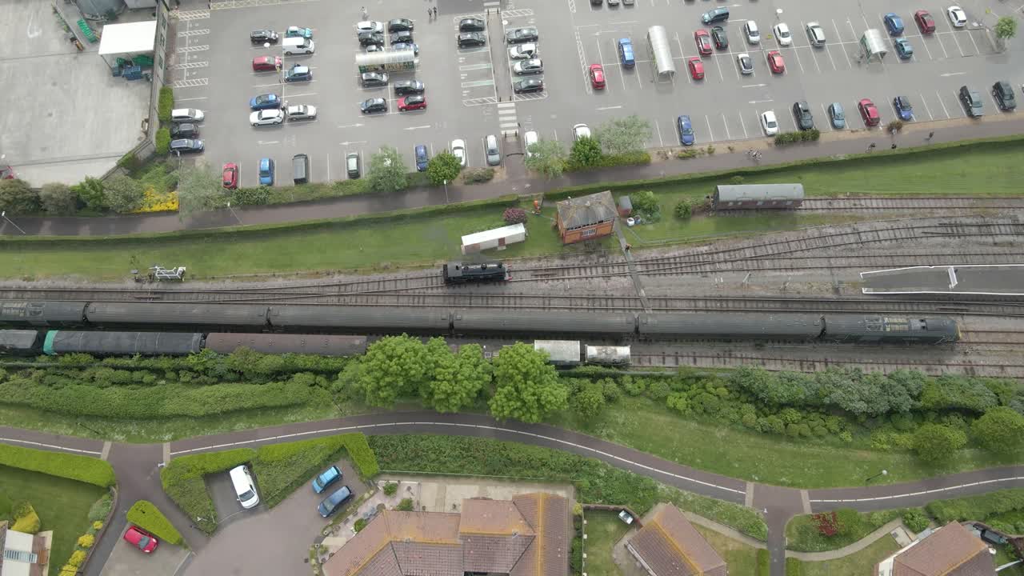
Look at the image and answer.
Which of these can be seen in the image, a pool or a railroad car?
railroad car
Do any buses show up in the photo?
Yes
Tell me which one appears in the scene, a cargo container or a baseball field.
cargo container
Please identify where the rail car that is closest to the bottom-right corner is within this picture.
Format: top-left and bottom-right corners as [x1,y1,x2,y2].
[814,315,959,345]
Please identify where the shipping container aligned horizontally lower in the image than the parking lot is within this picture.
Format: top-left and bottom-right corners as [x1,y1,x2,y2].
[462,224,526,253]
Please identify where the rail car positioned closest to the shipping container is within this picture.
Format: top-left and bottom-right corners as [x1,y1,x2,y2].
[438,258,511,287]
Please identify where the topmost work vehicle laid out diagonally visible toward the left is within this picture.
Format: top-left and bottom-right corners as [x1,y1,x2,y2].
[68,30,85,50]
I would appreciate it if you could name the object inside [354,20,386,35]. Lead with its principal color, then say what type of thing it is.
white car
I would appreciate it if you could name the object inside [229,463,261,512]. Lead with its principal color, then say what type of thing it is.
white van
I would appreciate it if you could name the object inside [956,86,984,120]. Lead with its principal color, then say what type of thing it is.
gray truck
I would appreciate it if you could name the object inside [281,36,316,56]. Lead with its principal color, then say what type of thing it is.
white vehicle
